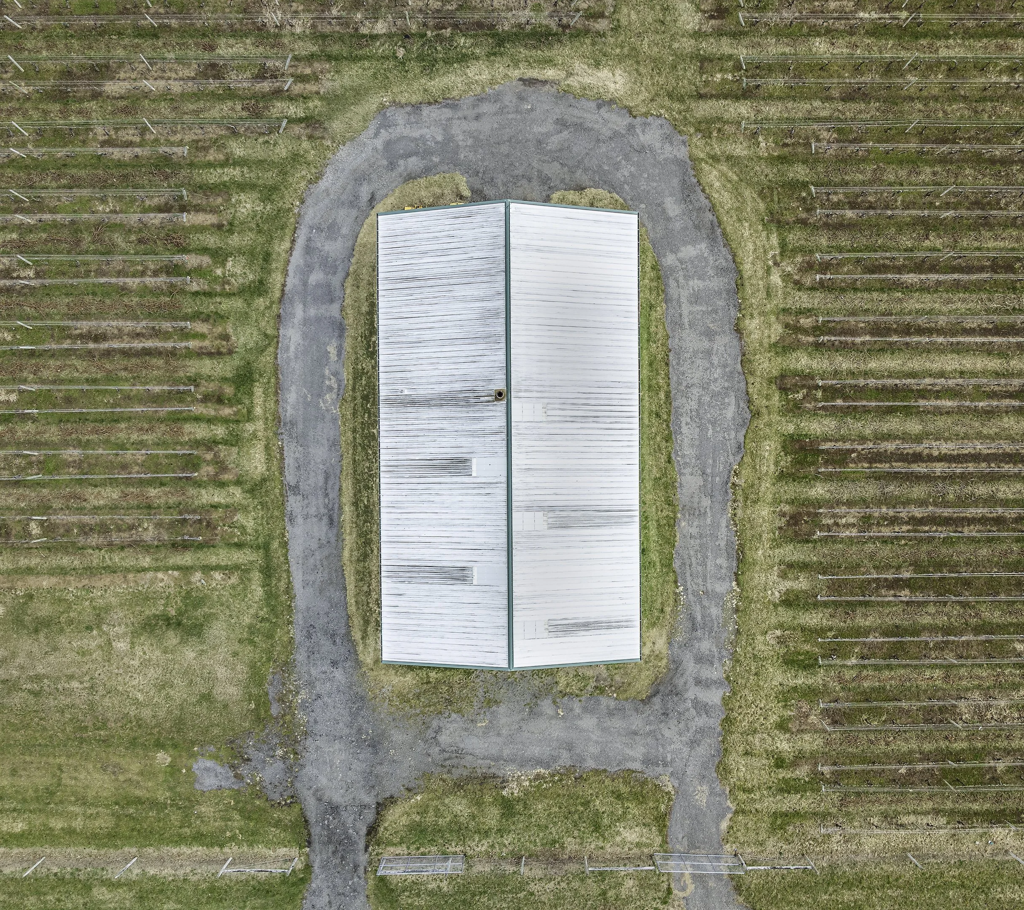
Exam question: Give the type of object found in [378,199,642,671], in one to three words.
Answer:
shed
